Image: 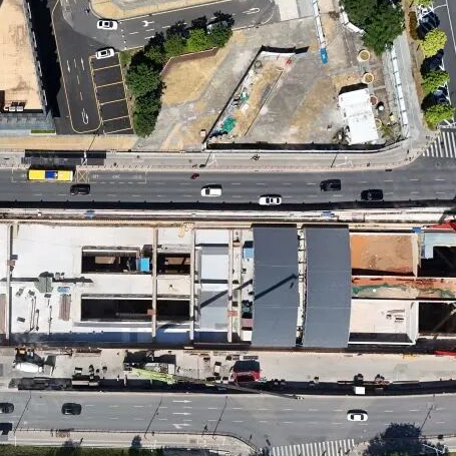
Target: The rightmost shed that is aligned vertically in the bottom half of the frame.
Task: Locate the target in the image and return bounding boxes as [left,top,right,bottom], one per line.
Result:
[298,226,352,347]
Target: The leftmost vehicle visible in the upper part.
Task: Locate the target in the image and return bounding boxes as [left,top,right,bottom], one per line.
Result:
[27,169,75,181]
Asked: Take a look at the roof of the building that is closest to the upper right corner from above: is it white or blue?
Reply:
white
